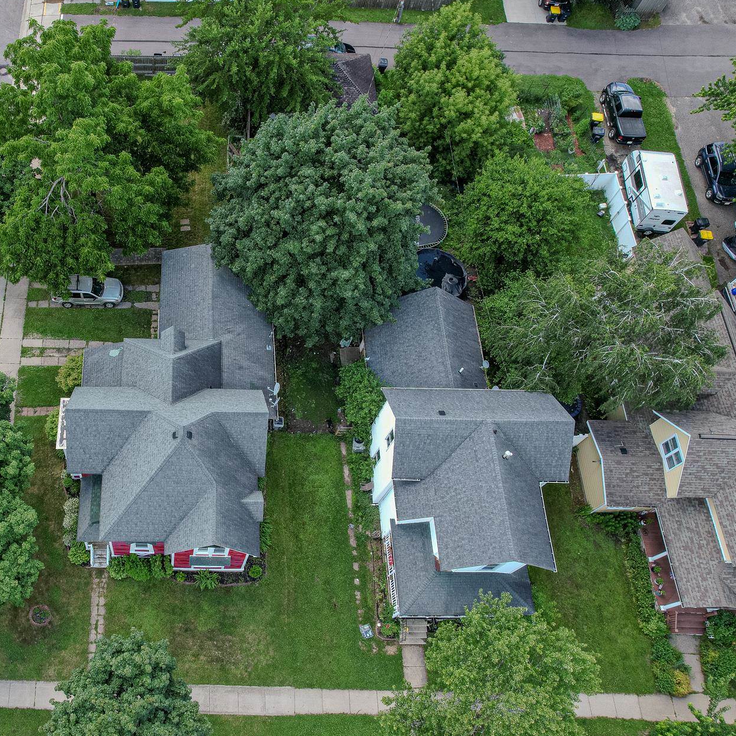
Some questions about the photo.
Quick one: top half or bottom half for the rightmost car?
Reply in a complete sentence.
The rightmost car sits in the top half of the picture.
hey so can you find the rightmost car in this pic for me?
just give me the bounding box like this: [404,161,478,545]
[699,145,736,206]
